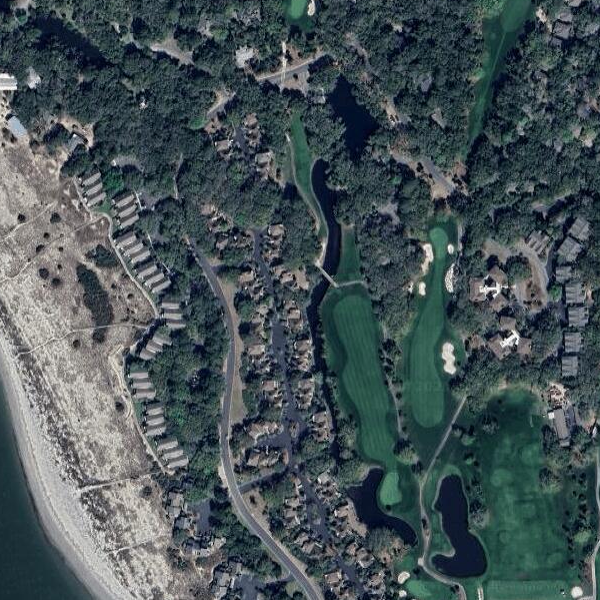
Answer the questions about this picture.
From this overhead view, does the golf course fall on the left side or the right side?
right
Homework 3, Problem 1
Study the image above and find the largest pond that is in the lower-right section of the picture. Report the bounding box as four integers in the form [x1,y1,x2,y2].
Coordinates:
[433,474,486,576]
